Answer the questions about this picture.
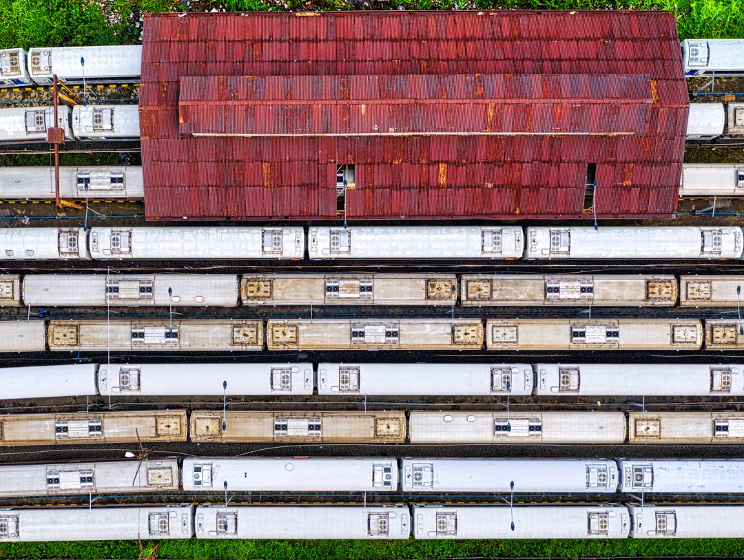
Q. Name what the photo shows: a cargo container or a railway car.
railway car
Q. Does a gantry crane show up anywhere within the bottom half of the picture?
No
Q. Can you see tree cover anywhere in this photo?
No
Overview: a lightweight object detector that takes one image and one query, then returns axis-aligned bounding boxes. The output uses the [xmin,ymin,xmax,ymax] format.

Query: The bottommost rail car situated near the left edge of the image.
[0,503,196,542]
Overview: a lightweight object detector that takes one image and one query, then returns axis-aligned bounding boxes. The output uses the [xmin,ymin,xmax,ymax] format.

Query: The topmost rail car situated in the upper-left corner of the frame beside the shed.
[28,44,143,85]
